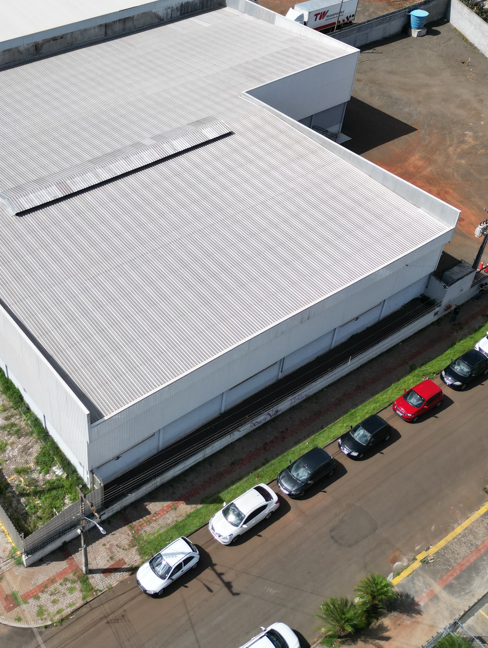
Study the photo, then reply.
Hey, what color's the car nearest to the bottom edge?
white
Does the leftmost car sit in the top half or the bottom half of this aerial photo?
bottom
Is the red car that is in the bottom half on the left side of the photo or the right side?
right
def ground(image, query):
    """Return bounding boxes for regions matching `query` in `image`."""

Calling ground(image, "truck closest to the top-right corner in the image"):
[288,0,359,30]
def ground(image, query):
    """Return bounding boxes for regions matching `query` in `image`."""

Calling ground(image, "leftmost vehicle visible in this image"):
[133,533,203,593]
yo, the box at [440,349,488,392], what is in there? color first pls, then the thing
black car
